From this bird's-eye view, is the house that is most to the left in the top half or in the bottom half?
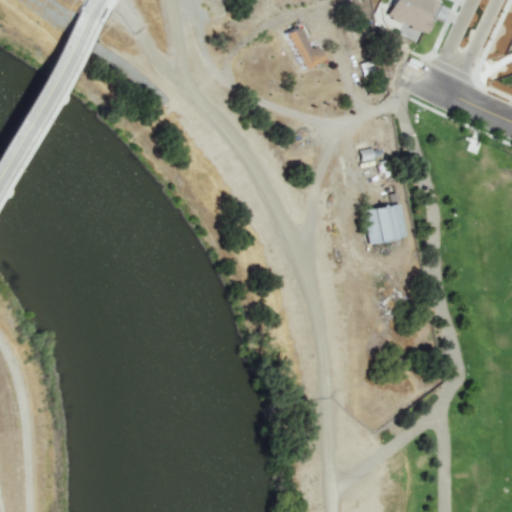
top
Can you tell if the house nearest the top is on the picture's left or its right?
right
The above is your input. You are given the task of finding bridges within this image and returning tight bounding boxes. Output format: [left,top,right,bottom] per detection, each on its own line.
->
[0,0,117,212]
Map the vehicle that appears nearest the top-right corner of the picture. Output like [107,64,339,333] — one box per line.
[408,57,426,70]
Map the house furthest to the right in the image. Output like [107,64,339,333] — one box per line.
[389,0,443,42]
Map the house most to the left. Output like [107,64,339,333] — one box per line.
[288,27,327,69]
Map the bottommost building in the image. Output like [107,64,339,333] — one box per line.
[369,204,408,244]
